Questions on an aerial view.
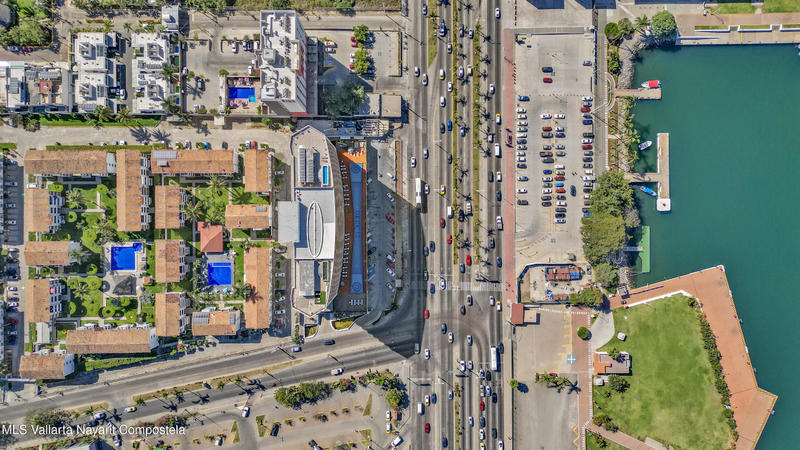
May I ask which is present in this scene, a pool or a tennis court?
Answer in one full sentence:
It is a pool that can be seen here.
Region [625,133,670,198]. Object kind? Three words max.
pier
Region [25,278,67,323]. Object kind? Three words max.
house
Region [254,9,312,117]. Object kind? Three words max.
building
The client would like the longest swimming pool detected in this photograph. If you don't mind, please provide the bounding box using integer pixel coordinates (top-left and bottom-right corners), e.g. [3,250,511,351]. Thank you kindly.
[348,162,364,294]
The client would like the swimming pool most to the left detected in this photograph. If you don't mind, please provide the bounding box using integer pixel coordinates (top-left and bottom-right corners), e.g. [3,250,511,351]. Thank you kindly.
[110,242,143,271]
